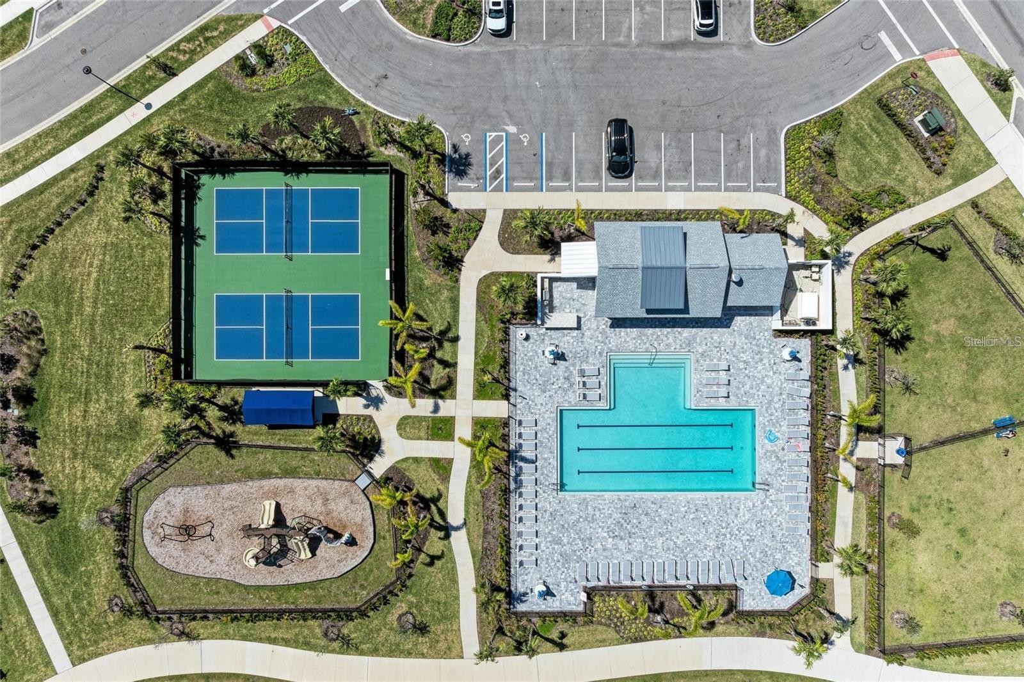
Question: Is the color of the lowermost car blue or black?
black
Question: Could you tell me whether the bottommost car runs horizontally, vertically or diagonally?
vertically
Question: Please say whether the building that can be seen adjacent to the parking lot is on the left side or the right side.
right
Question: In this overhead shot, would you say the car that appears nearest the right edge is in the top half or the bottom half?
top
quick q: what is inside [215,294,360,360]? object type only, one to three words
sports court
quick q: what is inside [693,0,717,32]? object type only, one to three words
car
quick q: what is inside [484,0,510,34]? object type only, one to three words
car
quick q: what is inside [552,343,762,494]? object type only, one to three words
swimming pool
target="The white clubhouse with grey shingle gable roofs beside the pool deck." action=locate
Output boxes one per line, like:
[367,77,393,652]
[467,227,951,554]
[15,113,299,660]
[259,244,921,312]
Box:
[561,221,788,318]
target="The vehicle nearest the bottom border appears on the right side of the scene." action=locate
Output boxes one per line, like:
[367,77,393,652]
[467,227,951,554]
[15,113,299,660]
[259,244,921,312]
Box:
[607,121,632,176]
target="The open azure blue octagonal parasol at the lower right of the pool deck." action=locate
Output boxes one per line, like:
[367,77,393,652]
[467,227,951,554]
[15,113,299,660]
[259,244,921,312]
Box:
[766,570,792,596]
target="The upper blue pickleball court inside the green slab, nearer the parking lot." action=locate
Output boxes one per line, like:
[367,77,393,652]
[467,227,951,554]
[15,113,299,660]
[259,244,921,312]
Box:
[215,187,360,254]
